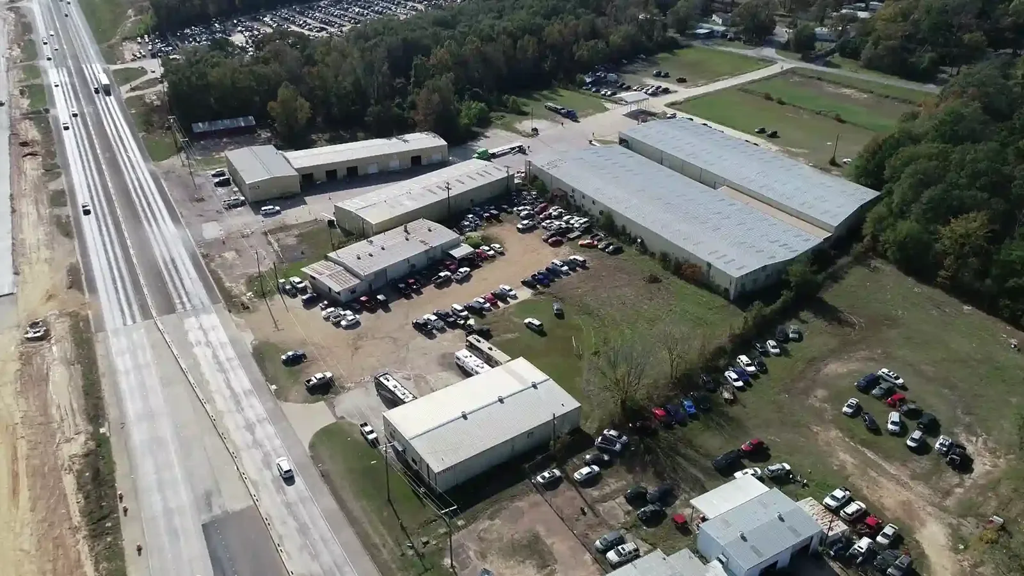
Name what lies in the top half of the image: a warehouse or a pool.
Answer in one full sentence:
It is a warehouse that can be seen in the top half of the image.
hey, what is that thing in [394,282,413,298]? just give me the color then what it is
black vehicle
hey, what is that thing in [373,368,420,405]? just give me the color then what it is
white camper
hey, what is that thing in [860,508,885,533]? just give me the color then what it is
red work vehicle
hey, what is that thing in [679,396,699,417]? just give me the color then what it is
blue car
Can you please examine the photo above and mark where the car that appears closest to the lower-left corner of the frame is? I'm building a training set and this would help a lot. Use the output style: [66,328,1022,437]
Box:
[275,457,296,484]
